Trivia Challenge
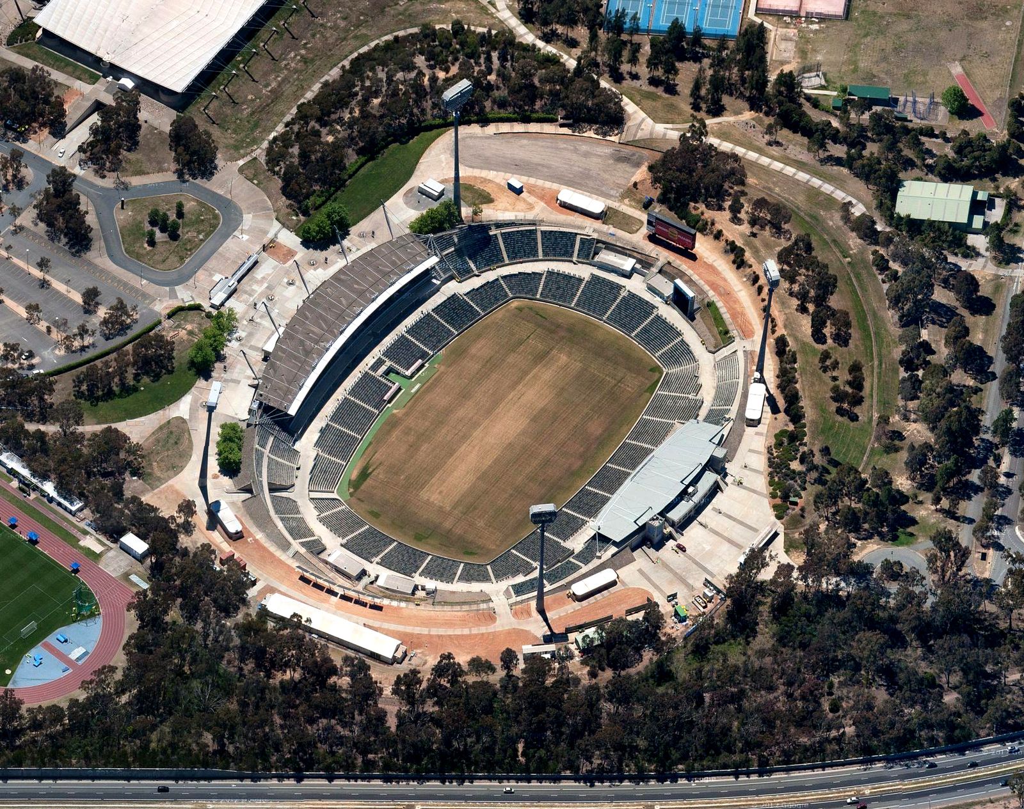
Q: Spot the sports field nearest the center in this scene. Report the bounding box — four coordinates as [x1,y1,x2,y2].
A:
[337,299,665,563]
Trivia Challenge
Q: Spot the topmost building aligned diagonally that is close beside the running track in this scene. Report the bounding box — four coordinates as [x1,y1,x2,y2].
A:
[0,453,84,516]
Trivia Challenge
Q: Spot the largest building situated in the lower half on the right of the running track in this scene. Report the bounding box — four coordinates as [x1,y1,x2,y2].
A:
[267,593,402,665]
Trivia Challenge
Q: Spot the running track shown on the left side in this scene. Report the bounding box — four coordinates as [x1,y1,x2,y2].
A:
[0,495,132,707]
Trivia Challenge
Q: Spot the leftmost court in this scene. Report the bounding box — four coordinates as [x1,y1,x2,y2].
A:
[604,0,744,39]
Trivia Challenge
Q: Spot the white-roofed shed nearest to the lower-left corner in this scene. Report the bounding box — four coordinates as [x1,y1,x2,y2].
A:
[119,532,150,562]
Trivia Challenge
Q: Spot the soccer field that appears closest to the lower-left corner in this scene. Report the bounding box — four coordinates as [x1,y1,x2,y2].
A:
[0,521,102,688]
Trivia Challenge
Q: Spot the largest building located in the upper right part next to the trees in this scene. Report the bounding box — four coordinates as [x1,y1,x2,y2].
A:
[895,180,973,231]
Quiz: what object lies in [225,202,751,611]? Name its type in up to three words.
stadium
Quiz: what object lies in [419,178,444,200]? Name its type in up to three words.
shed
